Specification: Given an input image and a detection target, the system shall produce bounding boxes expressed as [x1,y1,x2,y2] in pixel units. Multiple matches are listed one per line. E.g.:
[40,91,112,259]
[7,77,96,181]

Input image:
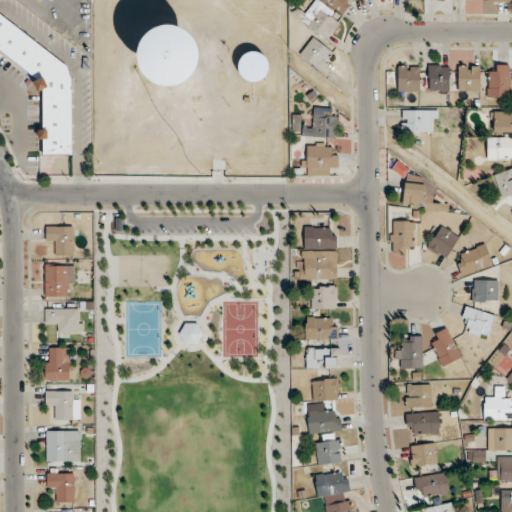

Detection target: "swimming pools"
[470,112,488,134]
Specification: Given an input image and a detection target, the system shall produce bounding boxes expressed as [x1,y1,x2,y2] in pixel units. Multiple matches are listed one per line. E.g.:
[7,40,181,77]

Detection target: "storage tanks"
[236,50,269,98]
[137,24,199,86]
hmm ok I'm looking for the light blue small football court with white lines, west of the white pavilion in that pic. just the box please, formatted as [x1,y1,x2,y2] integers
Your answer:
[126,302,162,357]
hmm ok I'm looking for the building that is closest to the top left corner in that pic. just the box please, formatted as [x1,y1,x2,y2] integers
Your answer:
[0,13,72,154]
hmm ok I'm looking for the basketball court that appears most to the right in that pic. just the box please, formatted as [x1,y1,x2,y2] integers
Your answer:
[223,302,258,357]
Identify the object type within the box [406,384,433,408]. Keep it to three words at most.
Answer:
house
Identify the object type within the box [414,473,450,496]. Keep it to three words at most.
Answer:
house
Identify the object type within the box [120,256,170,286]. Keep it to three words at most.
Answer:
sports court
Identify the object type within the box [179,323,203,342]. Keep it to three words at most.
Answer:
building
